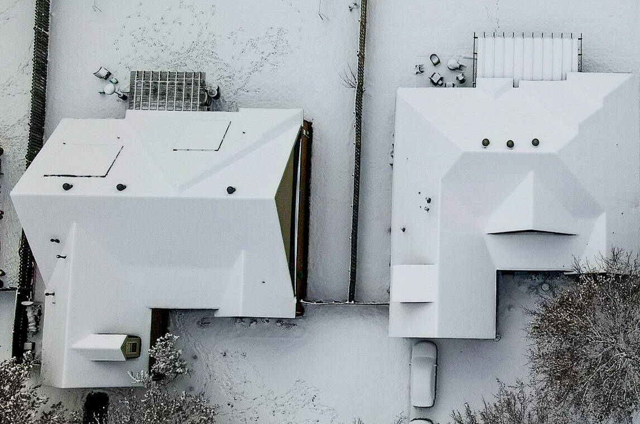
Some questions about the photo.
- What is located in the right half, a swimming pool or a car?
car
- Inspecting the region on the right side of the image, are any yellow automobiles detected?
No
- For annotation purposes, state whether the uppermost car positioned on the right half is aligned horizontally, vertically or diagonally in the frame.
vertically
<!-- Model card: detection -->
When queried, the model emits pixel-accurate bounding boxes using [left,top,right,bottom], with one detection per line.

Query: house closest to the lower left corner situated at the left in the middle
[12,108,308,387]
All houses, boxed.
[12,108,308,387]
[389,74,640,339]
